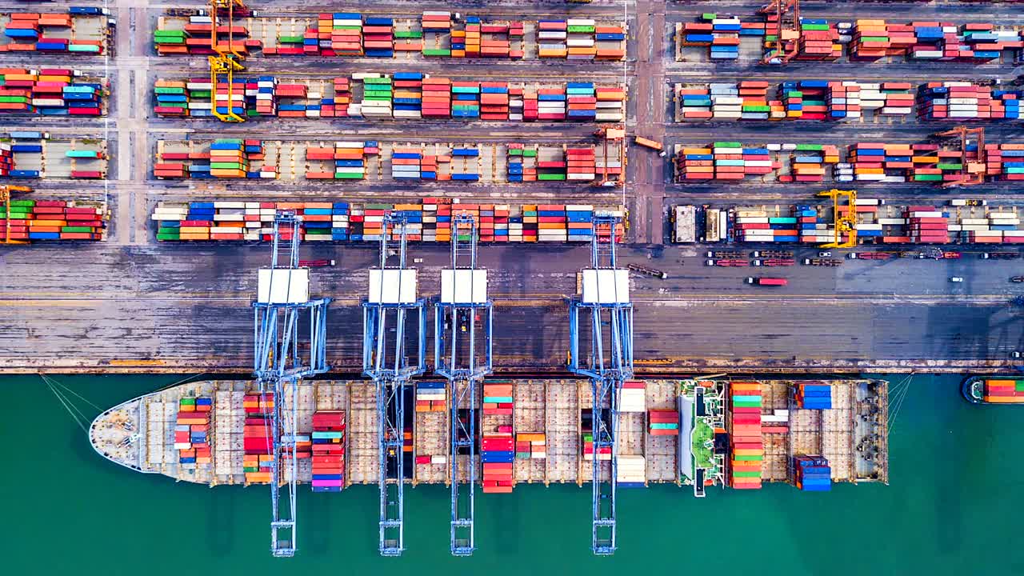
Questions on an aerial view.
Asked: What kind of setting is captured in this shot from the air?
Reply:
port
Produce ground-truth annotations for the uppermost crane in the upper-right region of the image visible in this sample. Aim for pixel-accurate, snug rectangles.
[758,0,799,69]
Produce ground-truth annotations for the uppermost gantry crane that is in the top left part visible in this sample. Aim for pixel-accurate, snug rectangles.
[211,0,251,64]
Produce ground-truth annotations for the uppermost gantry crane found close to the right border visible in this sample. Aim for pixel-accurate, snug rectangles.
[935,127,988,191]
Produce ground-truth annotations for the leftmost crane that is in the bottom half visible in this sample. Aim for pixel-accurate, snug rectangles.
[250,203,343,559]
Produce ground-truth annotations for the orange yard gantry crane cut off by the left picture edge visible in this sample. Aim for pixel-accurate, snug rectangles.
[0,186,40,249]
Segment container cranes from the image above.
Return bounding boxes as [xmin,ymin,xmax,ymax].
[432,203,503,558]
[250,203,343,559]
[812,190,855,251]
[935,127,988,191]
[758,0,799,69]
[211,0,251,64]
[210,56,250,126]
[360,203,437,558]
[594,124,625,190]
[0,186,40,249]
[558,204,637,557]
